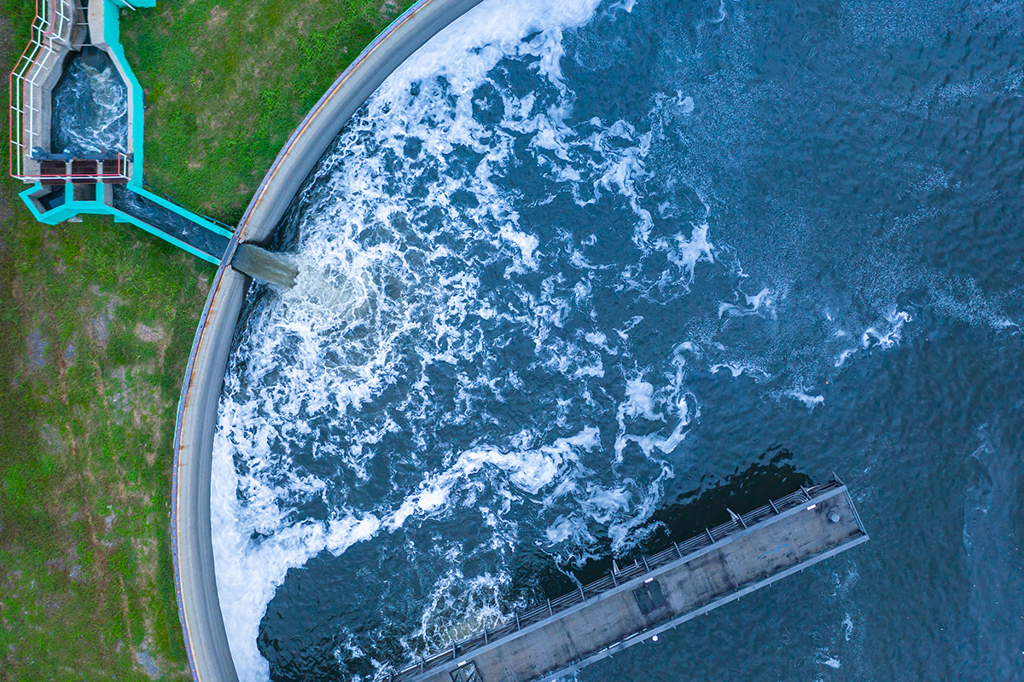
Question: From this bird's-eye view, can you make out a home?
No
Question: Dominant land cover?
water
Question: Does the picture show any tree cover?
No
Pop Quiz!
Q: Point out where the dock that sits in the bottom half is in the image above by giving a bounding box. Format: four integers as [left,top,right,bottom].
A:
[368,467,871,682]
